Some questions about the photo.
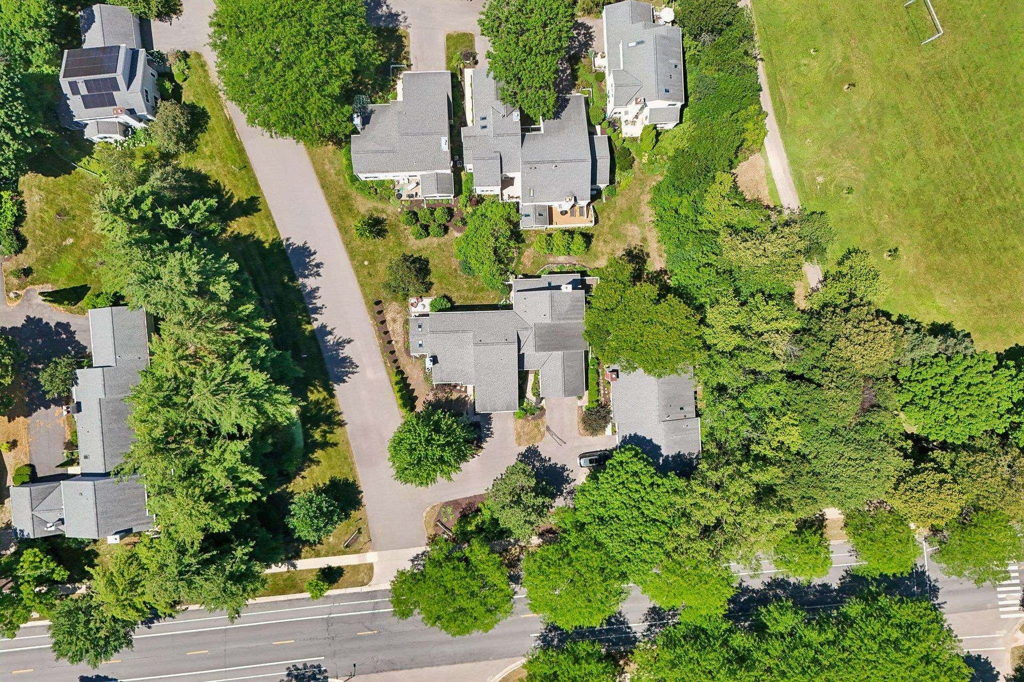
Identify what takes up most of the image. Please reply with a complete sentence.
The scene is dominated by trees.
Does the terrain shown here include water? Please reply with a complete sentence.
No, the picture contains no water.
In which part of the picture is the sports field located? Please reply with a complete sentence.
The sports field is located in the top right region of the scene.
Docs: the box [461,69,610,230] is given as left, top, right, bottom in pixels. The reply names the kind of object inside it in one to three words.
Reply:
house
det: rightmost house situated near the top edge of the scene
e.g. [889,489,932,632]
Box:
[602,0,684,127]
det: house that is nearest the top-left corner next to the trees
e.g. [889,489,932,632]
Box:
[59,3,168,140]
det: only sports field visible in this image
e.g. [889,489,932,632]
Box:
[751,0,1024,345]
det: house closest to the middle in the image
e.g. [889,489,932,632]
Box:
[409,273,586,414]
